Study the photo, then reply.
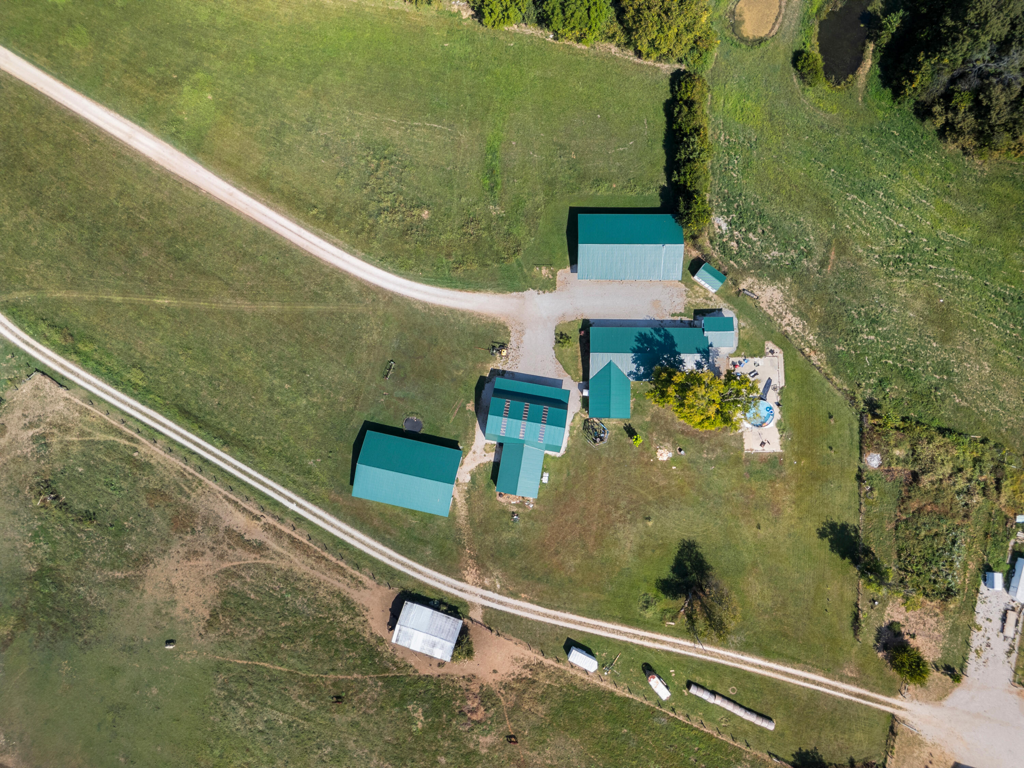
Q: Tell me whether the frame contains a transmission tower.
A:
No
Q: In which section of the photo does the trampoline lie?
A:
center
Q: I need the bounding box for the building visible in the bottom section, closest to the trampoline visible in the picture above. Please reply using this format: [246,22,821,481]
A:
[354,431,462,514]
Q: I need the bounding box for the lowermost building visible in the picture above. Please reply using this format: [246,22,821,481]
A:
[392,599,464,662]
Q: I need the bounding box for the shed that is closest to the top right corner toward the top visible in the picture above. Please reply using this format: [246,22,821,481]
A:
[694,262,727,292]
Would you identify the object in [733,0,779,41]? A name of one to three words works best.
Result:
pond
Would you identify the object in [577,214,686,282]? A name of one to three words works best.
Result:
shed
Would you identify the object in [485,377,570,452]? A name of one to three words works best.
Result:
barn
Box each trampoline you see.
[402,414,423,434]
